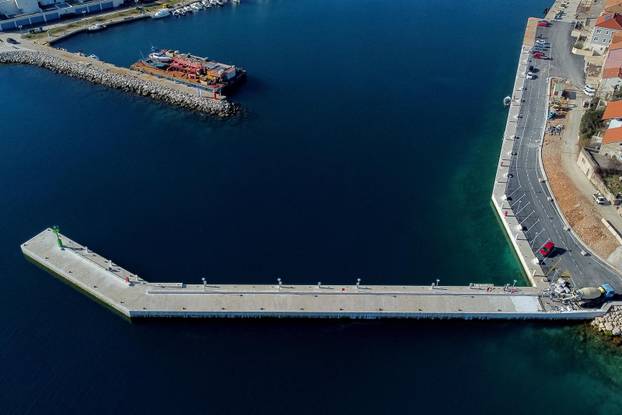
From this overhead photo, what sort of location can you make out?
port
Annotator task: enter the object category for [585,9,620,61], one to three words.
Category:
house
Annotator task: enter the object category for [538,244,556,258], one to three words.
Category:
vehicle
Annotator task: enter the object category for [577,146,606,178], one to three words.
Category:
shed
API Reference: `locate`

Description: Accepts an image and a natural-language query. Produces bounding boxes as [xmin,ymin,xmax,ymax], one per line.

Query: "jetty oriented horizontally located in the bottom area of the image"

[21,228,622,321]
